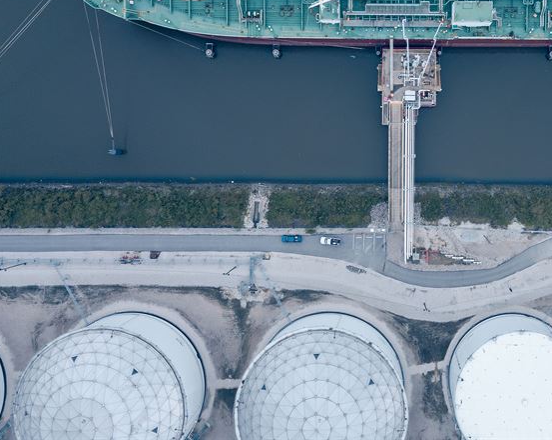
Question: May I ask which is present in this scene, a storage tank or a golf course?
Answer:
storage tank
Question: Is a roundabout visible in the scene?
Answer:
No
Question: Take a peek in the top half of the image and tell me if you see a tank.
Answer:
No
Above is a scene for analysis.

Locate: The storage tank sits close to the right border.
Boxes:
[448,314,552,440]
